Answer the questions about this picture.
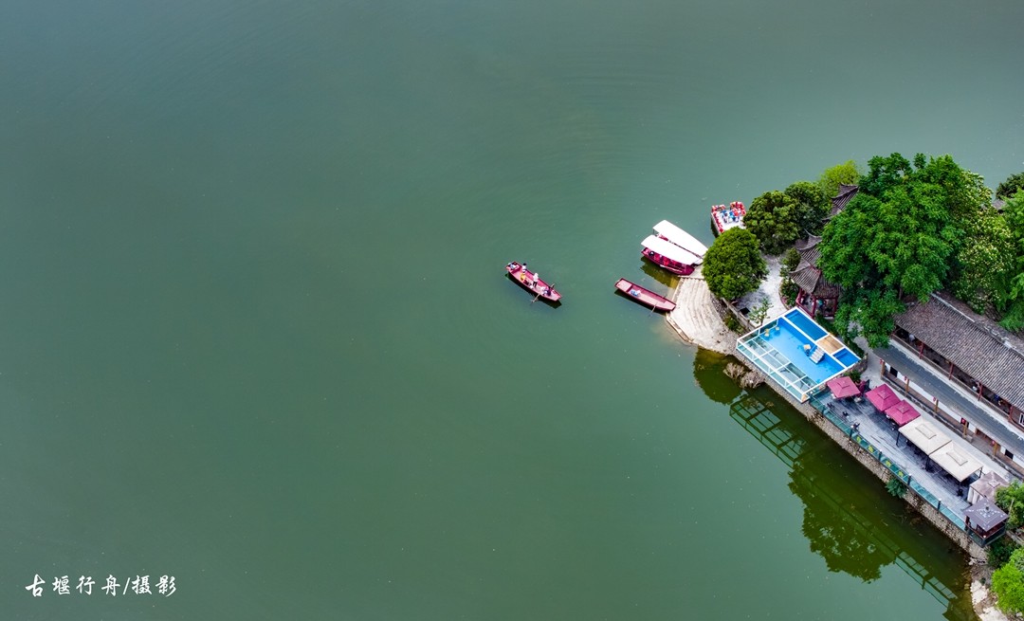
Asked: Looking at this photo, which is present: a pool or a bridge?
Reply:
pool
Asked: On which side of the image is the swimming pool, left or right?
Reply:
right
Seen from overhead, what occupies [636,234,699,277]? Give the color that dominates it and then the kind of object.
white boat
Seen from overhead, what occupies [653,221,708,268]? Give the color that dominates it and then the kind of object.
white boat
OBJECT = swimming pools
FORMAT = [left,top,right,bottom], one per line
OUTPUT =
[735,307,874,409]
